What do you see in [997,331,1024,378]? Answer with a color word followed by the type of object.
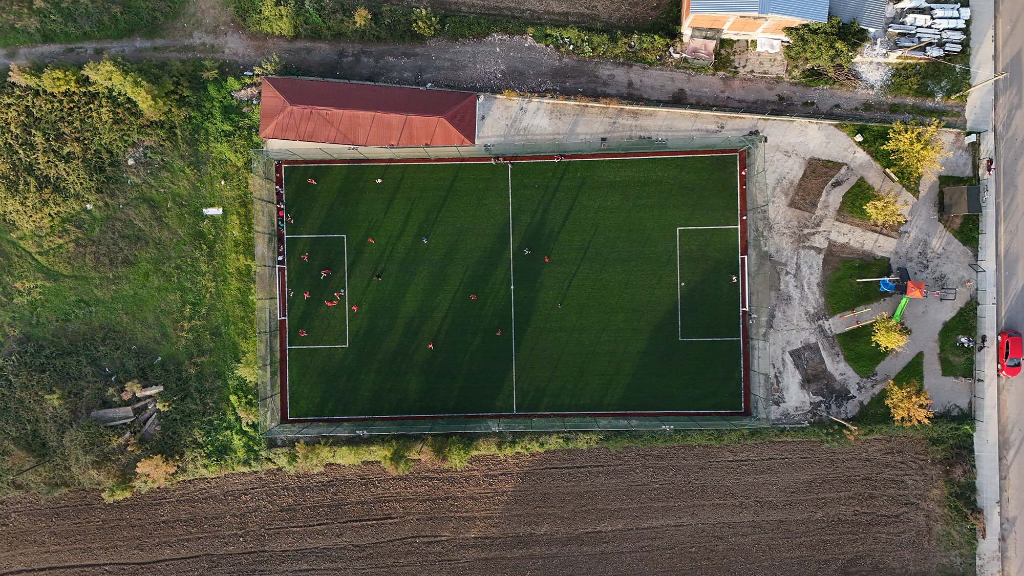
red car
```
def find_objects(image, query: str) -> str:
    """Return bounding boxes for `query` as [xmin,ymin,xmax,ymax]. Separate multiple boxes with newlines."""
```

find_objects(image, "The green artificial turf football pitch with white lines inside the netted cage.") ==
[275,149,751,423]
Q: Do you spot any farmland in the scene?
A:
Yes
